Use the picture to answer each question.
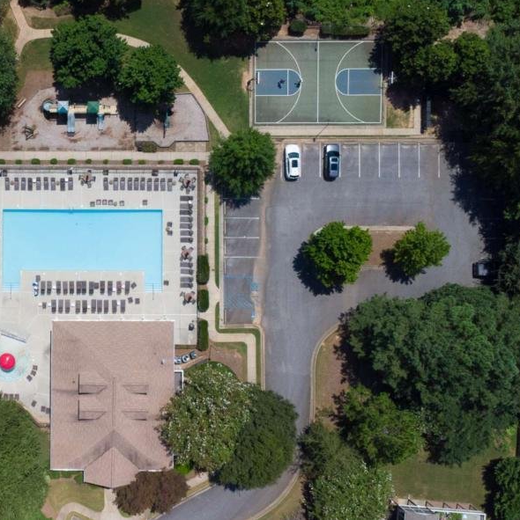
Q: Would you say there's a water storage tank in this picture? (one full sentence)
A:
No, I find no water storage tank anywhere in the image.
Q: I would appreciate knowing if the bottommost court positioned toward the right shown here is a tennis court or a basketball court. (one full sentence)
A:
In the photo, the bottommost court positioned toward the right shows up as a basketball court.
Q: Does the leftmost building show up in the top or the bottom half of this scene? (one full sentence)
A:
Seen from above, the leftmost building lies in the bottom half of the view.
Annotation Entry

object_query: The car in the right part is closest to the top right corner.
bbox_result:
[323,143,340,178]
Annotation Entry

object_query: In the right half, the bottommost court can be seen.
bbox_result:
[254,38,385,126]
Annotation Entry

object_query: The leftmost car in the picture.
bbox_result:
[284,144,301,181]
